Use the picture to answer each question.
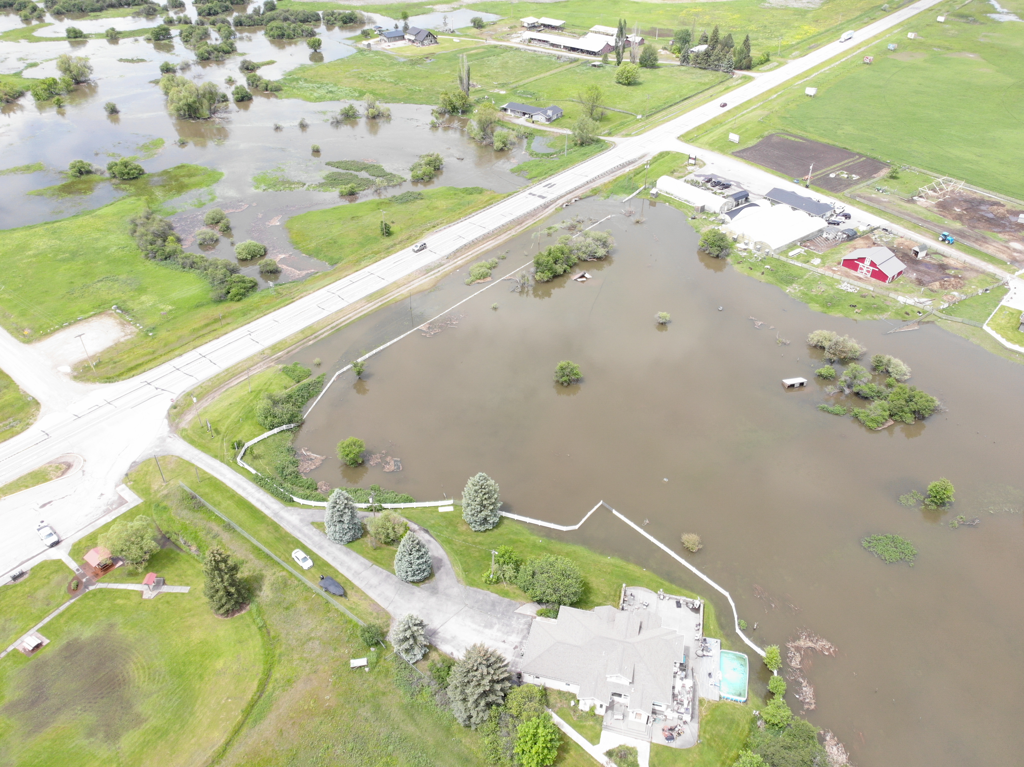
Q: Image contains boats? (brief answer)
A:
Yes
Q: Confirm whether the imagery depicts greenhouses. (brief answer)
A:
Yes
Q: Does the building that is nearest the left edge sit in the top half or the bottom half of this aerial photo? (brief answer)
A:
bottom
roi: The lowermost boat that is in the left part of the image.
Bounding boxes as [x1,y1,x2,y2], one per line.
[317,569,348,596]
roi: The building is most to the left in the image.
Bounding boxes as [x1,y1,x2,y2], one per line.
[69,532,115,571]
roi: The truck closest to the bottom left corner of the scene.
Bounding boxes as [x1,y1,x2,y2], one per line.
[30,519,57,545]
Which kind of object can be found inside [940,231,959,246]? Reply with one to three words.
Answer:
work vehicle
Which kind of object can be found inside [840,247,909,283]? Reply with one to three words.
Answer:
barn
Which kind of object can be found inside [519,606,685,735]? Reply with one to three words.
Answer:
house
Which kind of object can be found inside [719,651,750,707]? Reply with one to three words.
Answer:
swimming pool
